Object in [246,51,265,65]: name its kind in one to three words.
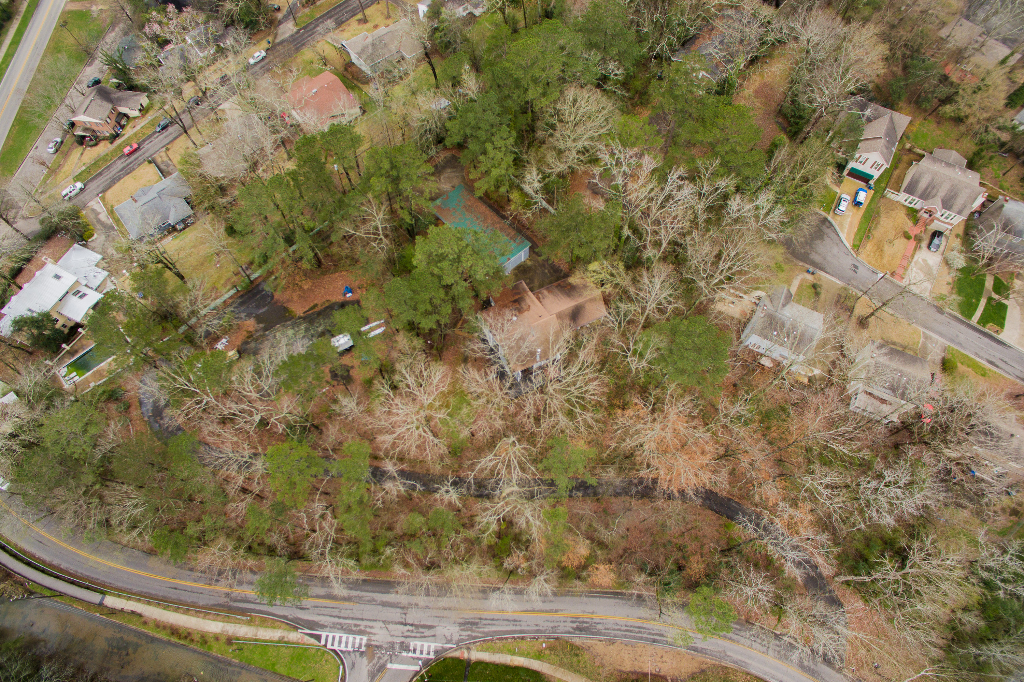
car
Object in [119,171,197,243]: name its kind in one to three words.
house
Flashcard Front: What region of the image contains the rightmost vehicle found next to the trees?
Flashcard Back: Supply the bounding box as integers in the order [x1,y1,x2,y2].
[929,231,942,251]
